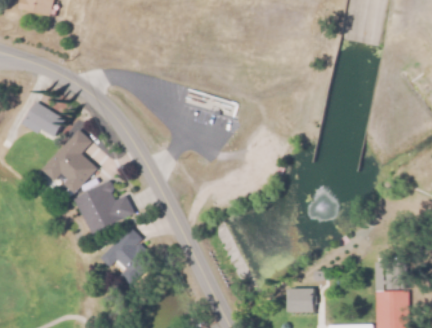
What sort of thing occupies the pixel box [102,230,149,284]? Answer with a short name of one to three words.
house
